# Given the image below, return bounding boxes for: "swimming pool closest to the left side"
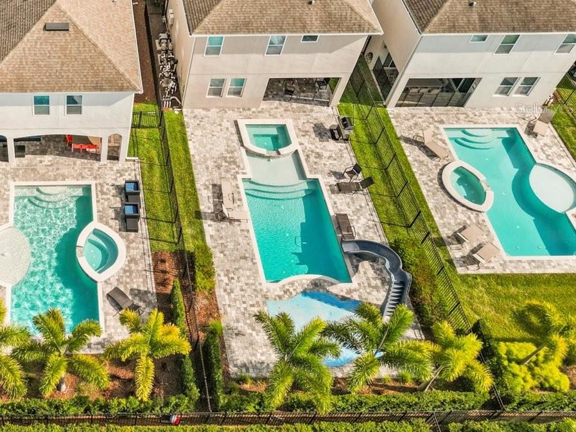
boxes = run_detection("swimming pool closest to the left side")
[0,180,125,341]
